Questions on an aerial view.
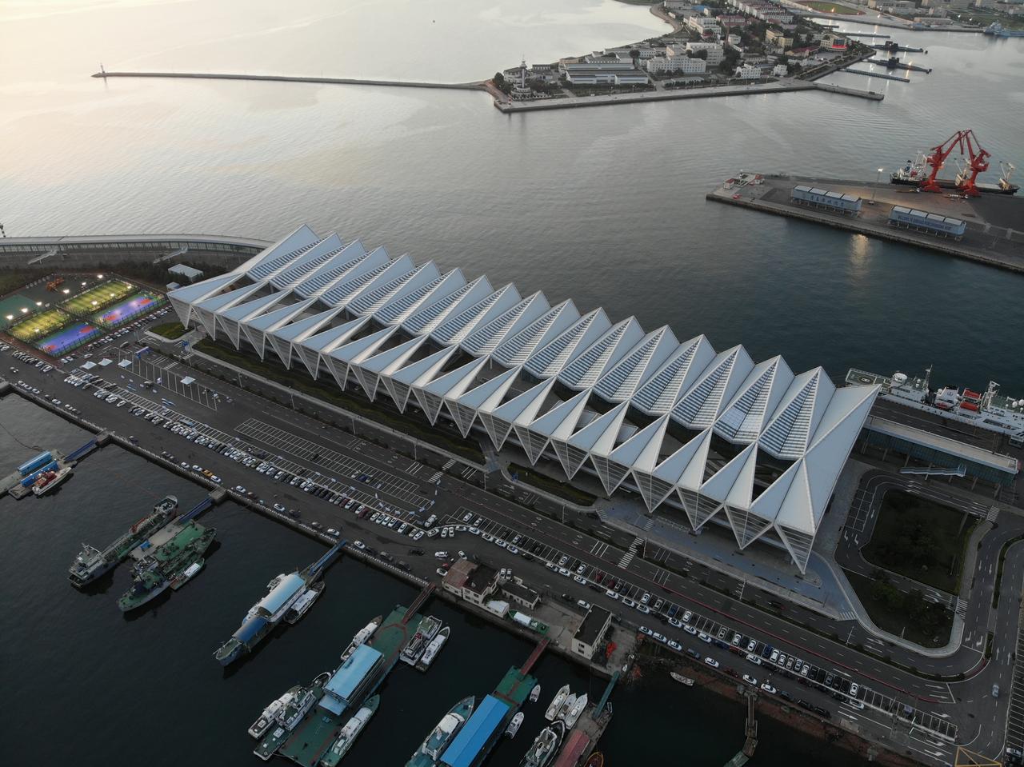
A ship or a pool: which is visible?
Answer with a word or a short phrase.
ship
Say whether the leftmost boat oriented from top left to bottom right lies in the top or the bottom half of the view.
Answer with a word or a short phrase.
bottom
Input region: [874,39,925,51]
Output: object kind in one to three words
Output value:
ship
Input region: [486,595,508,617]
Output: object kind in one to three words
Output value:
shed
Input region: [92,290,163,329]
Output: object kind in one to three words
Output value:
basketball court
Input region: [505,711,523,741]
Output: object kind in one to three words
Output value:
boat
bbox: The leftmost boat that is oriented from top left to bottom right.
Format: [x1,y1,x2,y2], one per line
[508,606,550,640]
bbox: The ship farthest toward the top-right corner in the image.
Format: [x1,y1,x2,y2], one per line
[983,20,1024,41]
